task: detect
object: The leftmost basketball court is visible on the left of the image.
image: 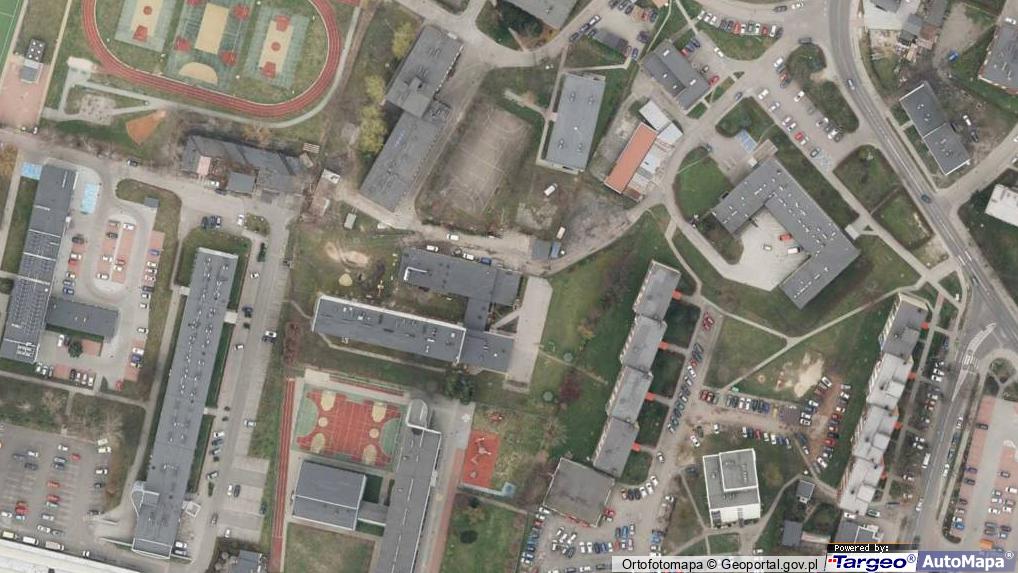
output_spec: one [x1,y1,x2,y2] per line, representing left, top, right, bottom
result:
[116,0,174,51]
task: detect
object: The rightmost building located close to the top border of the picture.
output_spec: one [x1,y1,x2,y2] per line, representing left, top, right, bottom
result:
[975,21,1018,108]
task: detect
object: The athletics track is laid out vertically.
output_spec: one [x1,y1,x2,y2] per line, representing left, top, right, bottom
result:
[271,378,296,573]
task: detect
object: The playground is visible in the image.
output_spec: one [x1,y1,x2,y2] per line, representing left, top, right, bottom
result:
[462,430,500,489]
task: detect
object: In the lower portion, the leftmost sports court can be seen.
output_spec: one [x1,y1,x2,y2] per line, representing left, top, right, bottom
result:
[291,384,405,473]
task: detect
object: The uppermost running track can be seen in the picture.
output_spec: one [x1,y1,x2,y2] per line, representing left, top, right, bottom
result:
[83,0,358,115]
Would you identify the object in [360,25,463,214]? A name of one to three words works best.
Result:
building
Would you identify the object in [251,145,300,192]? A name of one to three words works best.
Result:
house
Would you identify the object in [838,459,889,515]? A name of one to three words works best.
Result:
building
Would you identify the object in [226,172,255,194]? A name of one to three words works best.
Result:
shed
